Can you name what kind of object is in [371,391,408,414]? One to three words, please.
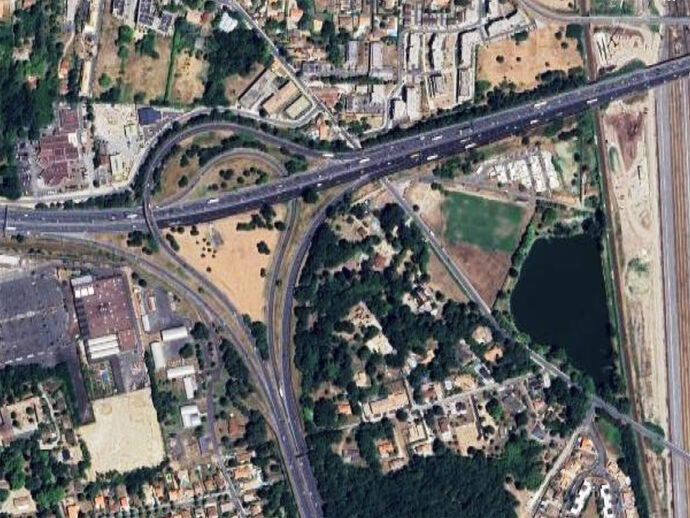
house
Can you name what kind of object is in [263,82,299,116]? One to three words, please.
building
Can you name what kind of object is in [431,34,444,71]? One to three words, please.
building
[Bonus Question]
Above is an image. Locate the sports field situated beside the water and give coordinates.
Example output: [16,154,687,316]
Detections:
[441,191,526,252]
